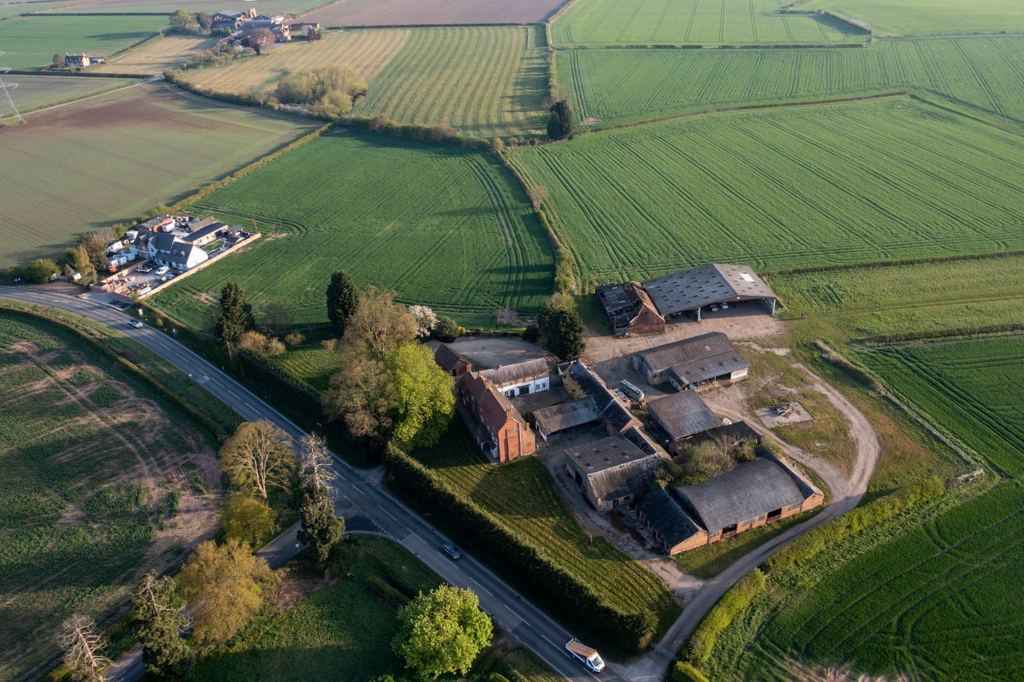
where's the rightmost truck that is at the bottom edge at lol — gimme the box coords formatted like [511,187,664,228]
[568,646,604,673]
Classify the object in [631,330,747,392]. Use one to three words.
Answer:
barn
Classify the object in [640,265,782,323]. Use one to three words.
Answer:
barn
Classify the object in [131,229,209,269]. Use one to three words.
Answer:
house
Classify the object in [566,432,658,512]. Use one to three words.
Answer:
building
